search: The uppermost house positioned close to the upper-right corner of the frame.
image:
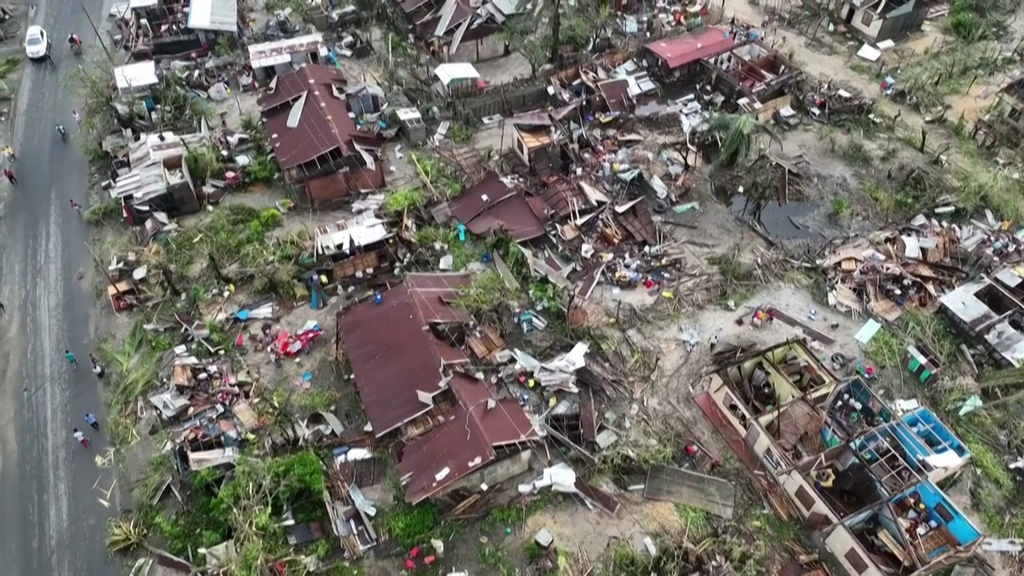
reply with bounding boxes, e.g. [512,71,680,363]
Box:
[830,0,926,47]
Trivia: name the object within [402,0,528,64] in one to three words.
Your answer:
house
